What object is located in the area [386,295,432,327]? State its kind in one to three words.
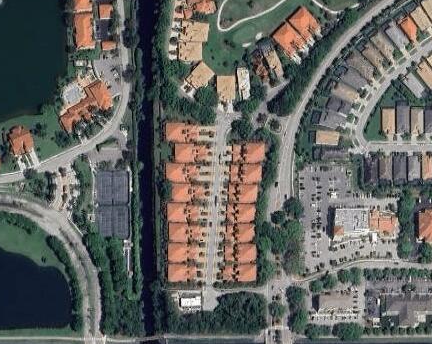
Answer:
building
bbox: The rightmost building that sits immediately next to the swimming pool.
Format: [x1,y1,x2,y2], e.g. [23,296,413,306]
[85,78,119,112]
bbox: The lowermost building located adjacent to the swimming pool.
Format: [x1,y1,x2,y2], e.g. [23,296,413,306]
[56,97,97,137]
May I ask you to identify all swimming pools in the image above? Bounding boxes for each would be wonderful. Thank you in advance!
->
[63,85,82,105]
